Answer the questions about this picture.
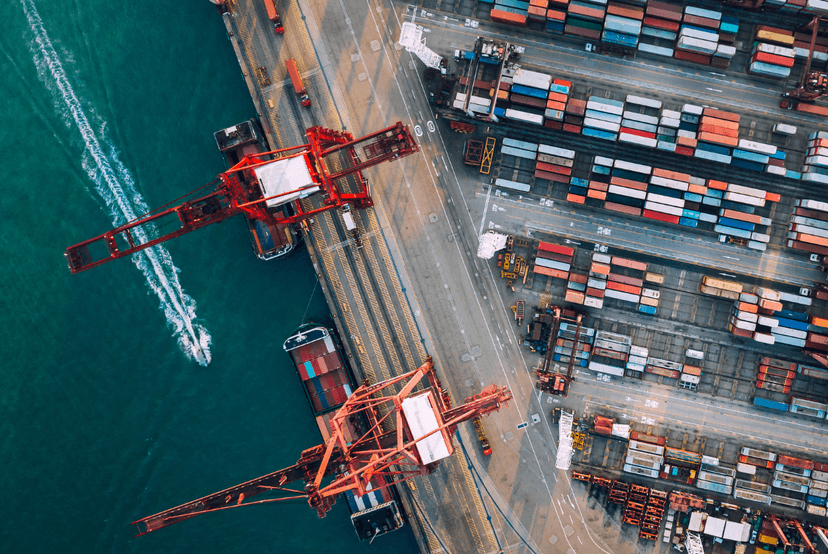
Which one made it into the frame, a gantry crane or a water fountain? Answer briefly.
gantry crane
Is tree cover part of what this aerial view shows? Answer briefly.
No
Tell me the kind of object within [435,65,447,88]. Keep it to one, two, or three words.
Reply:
vehicle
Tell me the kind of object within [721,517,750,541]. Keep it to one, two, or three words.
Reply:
shed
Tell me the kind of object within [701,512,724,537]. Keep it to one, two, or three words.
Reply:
shed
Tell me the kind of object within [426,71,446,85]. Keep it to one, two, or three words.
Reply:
vehicle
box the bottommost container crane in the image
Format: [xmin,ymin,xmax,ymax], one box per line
[132,352,517,539]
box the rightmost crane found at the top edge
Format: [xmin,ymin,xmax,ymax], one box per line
[771,14,828,116]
